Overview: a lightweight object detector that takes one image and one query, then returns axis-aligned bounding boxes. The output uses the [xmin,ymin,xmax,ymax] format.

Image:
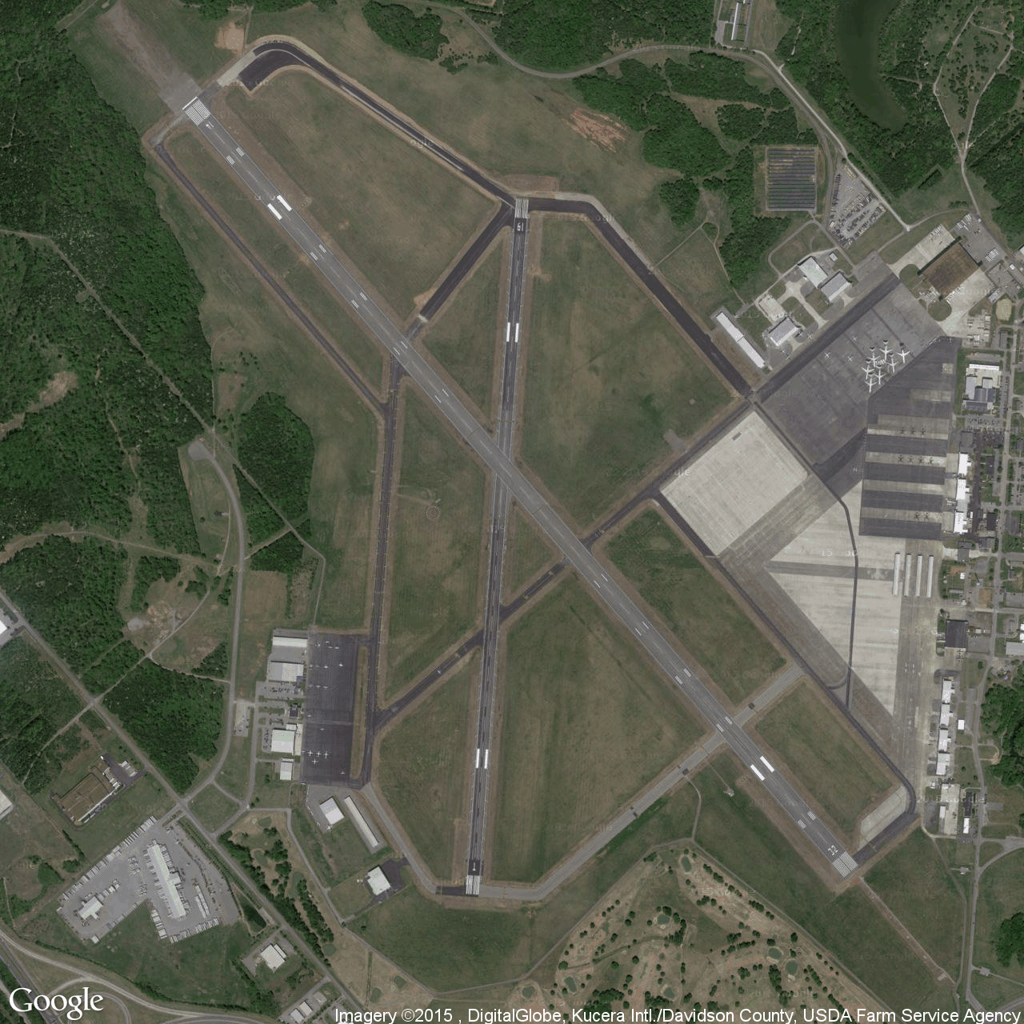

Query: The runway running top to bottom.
[465,198,530,895]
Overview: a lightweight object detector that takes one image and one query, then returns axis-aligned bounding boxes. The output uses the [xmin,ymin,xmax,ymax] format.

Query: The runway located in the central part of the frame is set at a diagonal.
[182,96,860,880]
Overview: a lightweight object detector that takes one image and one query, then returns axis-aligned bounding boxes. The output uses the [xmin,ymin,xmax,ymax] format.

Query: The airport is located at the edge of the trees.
[149,40,961,900]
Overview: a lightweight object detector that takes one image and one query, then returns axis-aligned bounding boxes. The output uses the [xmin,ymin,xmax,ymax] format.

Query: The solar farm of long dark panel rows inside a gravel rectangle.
[769,151,816,209]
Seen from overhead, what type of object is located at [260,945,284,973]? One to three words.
building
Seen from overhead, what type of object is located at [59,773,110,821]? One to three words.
building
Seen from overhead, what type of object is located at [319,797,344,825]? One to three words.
hangar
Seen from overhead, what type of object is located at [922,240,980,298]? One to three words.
hangar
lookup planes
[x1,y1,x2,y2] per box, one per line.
[880,342,892,360]
[897,345,909,363]
[873,365,886,384]
[867,349,879,367]
[886,354,899,372]
[864,374,876,392]
[862,361,874,379]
